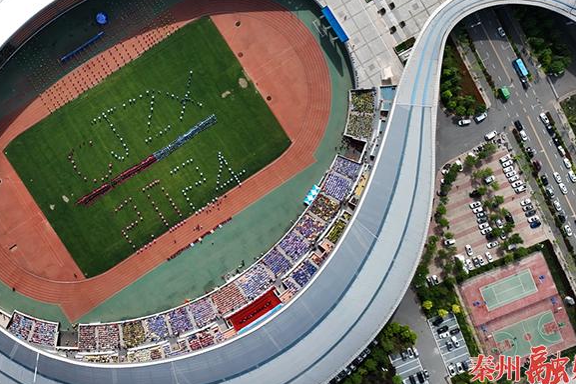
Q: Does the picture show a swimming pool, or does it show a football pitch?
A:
football pitch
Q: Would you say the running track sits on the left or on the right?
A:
left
